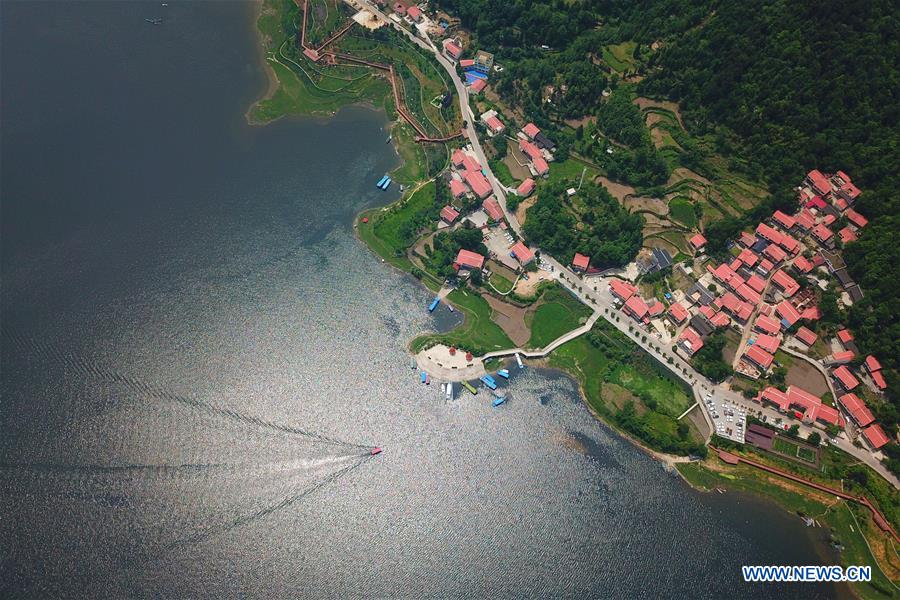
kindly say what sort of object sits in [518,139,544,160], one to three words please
house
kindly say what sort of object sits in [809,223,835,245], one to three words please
house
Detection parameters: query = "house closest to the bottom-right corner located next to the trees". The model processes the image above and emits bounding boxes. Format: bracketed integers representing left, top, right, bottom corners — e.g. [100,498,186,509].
[859,423,893,451]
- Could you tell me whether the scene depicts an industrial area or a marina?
marina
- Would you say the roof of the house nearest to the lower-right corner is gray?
No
